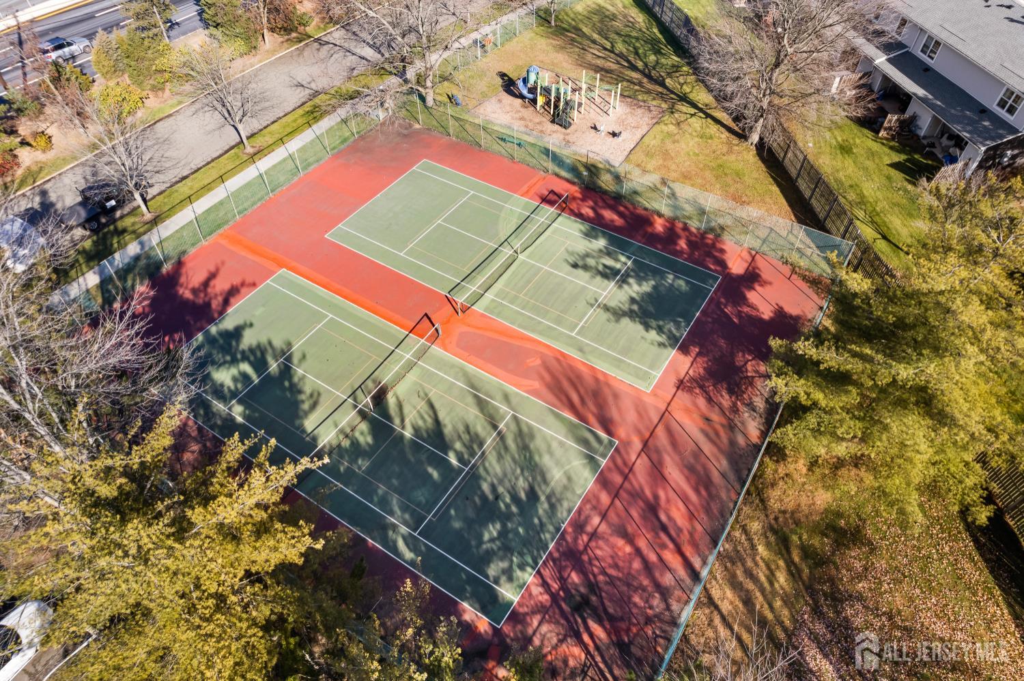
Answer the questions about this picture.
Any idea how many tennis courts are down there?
2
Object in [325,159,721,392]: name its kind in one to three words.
tennis court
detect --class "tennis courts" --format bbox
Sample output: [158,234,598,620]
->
[138,268,617,628]
[325,159,721,392]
